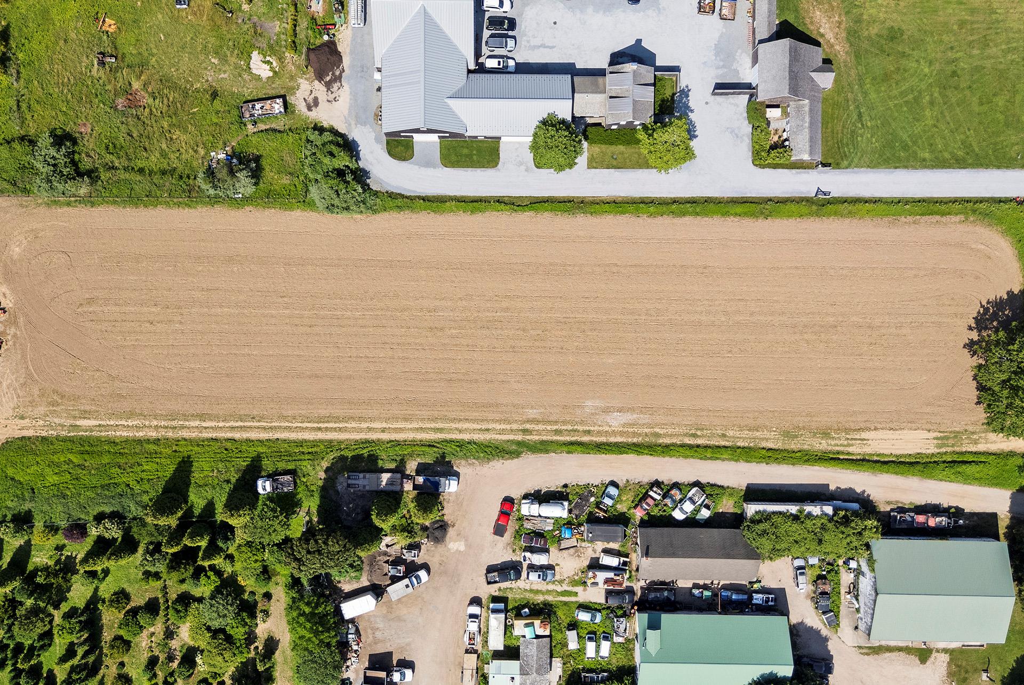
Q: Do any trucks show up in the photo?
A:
Yes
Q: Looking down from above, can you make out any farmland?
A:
Yes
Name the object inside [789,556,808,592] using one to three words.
car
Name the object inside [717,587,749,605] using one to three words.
vehicle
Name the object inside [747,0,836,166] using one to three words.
house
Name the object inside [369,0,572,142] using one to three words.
barn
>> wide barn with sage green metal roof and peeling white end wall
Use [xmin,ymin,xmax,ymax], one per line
[856,532,1016,643]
